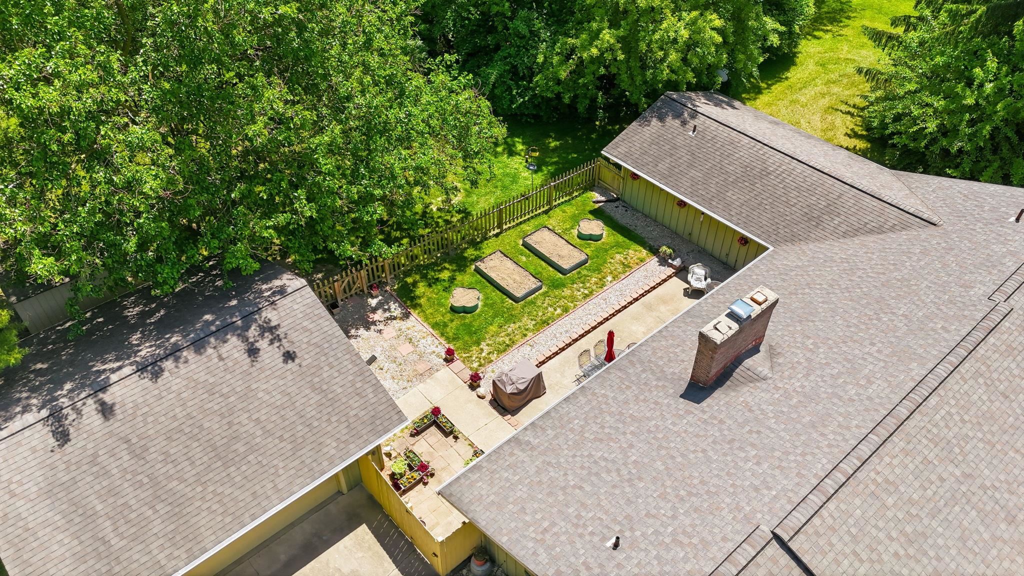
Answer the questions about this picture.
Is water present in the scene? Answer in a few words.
No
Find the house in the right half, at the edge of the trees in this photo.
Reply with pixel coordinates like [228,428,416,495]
[424,92,1024,576]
